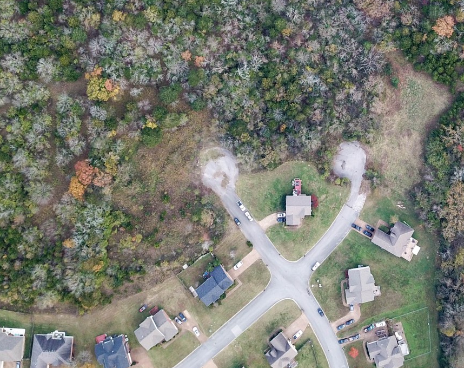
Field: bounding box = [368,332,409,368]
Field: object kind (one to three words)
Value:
house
